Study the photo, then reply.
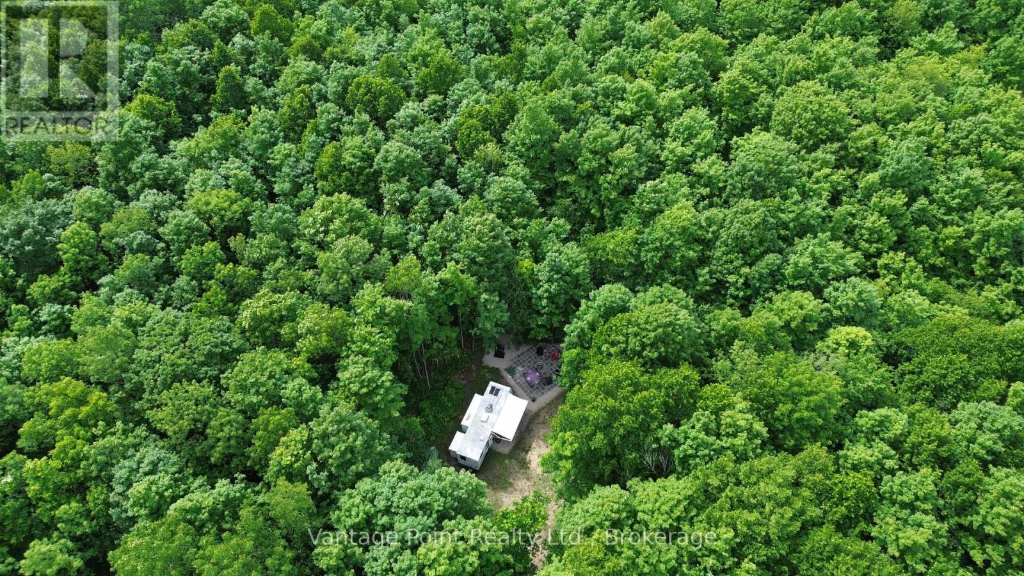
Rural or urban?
rural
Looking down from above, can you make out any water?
No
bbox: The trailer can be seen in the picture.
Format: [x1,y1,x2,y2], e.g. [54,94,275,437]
[449,381,528,475]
